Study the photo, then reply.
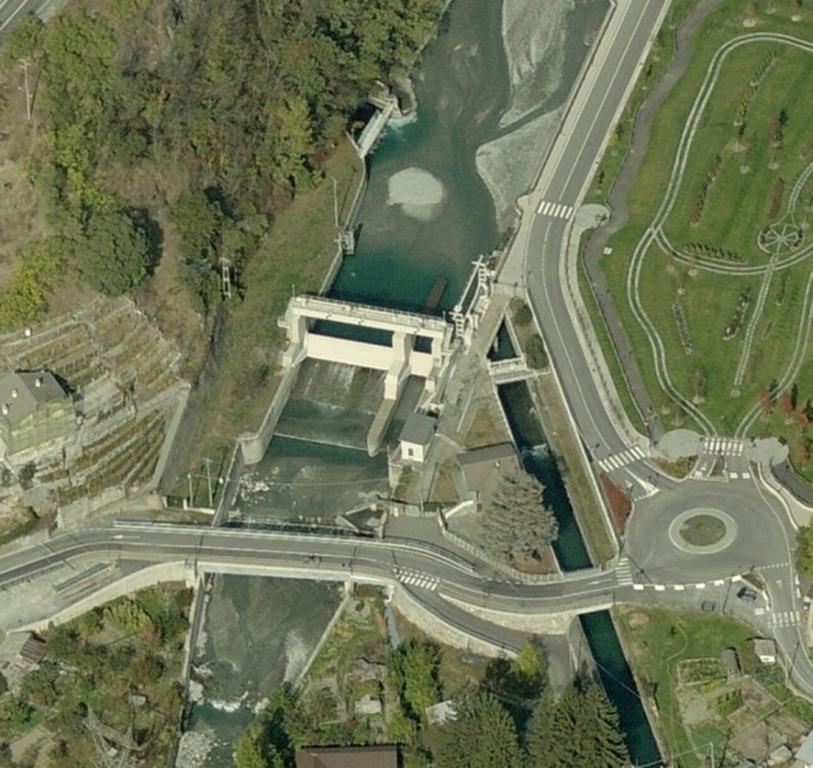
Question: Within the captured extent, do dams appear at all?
Yes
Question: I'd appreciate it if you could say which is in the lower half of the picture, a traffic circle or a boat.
traffic circle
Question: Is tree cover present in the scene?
Yes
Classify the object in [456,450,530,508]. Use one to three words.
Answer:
building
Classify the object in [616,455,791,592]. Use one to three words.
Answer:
roundabout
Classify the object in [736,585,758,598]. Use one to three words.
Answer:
vehicle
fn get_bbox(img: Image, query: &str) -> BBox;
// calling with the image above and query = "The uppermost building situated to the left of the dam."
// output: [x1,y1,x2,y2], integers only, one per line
[0,361,68,457]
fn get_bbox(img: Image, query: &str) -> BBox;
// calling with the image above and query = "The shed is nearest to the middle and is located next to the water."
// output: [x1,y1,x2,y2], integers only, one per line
[396,415,433,470]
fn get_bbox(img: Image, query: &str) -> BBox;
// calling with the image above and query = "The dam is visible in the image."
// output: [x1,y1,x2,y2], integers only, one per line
[276,287,458,461]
